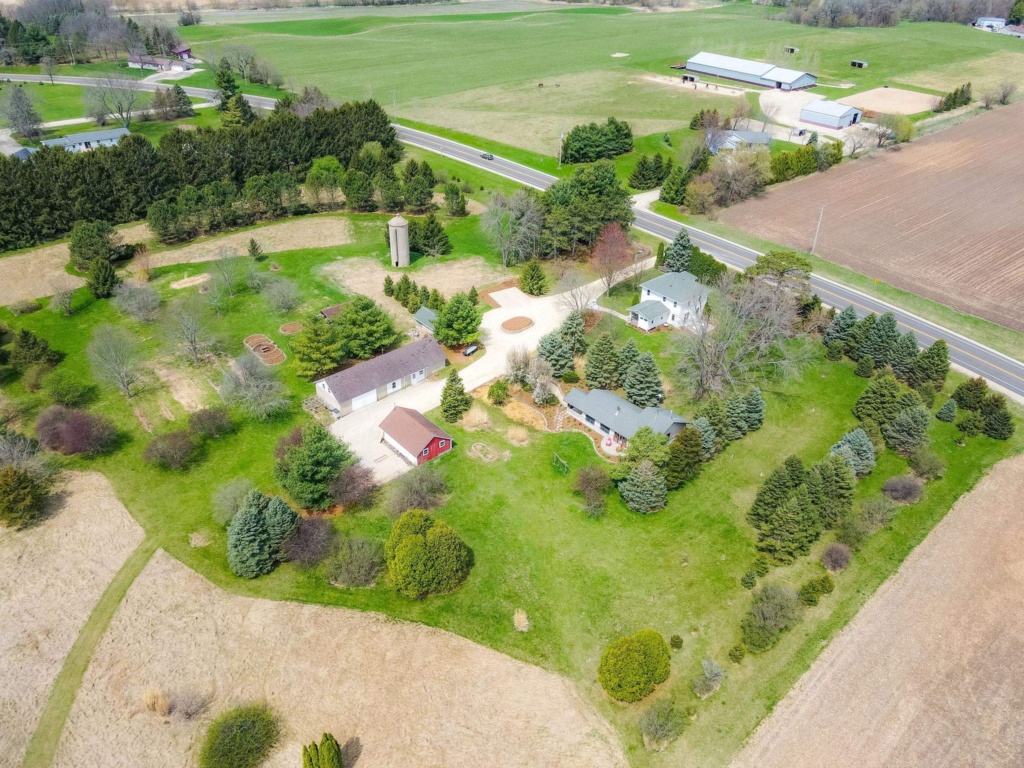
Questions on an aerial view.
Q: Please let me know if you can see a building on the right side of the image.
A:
Yes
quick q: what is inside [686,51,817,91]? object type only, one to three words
barn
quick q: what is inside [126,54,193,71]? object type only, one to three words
house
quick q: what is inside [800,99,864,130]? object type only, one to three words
shed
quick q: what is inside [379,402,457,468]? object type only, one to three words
building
